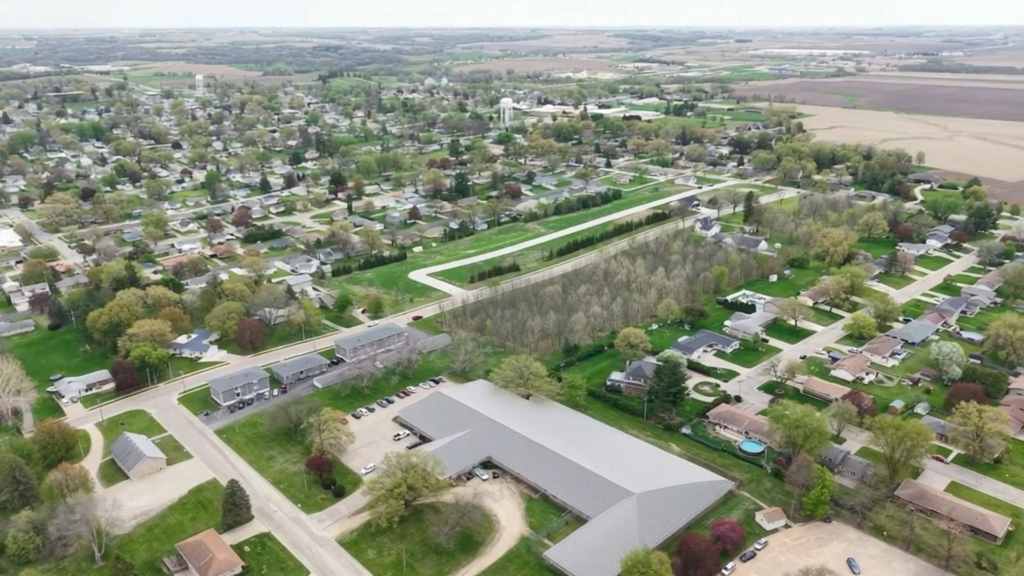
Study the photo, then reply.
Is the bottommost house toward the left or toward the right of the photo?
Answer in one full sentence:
The bottommost house sits on the left side.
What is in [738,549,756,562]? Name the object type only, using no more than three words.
vehicle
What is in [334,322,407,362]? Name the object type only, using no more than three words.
building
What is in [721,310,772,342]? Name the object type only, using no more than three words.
house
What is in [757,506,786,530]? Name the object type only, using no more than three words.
shed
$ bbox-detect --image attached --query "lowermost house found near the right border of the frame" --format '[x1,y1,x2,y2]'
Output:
[894,481,1007,547]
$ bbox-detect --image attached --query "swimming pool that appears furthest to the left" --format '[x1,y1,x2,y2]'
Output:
[736,438,765,457]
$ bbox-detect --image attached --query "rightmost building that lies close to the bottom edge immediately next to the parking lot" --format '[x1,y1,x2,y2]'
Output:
[397,379,733,576]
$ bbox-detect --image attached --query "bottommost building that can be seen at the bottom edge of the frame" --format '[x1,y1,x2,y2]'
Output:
[185,524,243,576]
